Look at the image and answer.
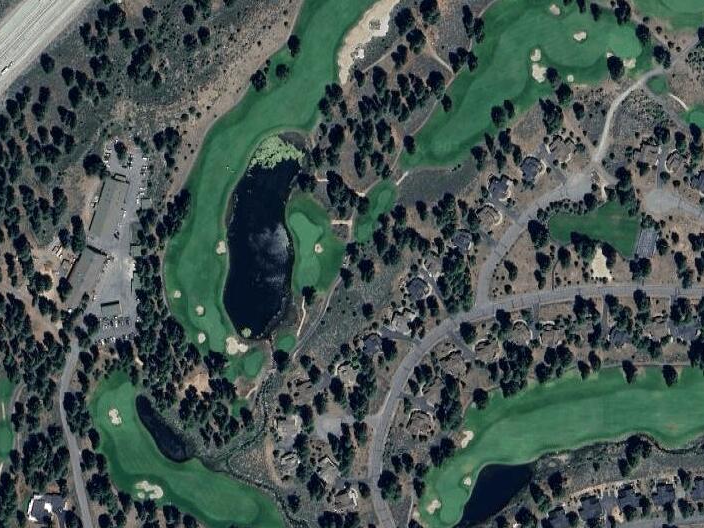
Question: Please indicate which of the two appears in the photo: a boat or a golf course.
golf course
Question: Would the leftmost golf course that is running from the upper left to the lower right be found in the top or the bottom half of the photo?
bottom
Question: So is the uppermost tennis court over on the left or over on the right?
right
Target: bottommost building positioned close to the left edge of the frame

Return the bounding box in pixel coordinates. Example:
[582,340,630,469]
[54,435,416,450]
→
[28,497,65,518]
